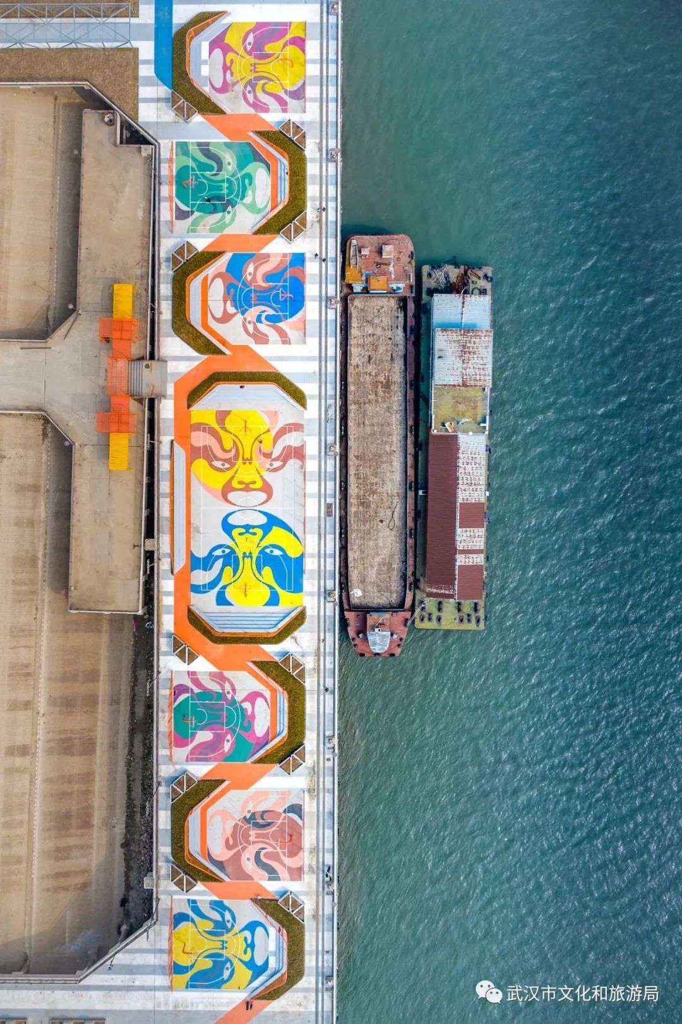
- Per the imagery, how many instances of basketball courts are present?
7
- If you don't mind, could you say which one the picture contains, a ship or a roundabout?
ship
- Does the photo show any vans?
No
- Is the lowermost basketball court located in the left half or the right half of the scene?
left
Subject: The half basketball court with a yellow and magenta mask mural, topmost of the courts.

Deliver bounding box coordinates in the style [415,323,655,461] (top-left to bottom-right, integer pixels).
[208,21,305,113]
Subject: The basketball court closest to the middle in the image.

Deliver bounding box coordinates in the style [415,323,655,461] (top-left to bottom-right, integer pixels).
[190,405,304,612]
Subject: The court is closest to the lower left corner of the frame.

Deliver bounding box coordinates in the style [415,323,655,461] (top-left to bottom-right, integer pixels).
[172,899,269,990]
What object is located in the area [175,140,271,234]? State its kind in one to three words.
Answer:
basketball court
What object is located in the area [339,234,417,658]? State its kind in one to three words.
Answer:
ship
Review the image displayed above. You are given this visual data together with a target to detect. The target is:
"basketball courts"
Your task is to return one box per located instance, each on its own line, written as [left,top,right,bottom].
[175,140,271,234]
[172,899,269,990]
[208,21,305,113]
[172,670,270,763]
[207,789,303,882]
[190,405,304,612]
[208,252,305,345]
